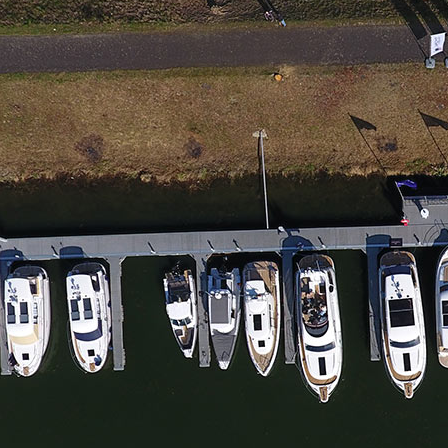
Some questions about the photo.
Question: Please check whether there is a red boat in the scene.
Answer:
No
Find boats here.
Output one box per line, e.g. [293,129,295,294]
[290,250,344,403]
[0,259,53,376]
[242,251,284,376]
[434,245,448,368]
[376,245,427,399]
[55,255,115,373]
[205,254,242,369]
[164,253,198,359]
